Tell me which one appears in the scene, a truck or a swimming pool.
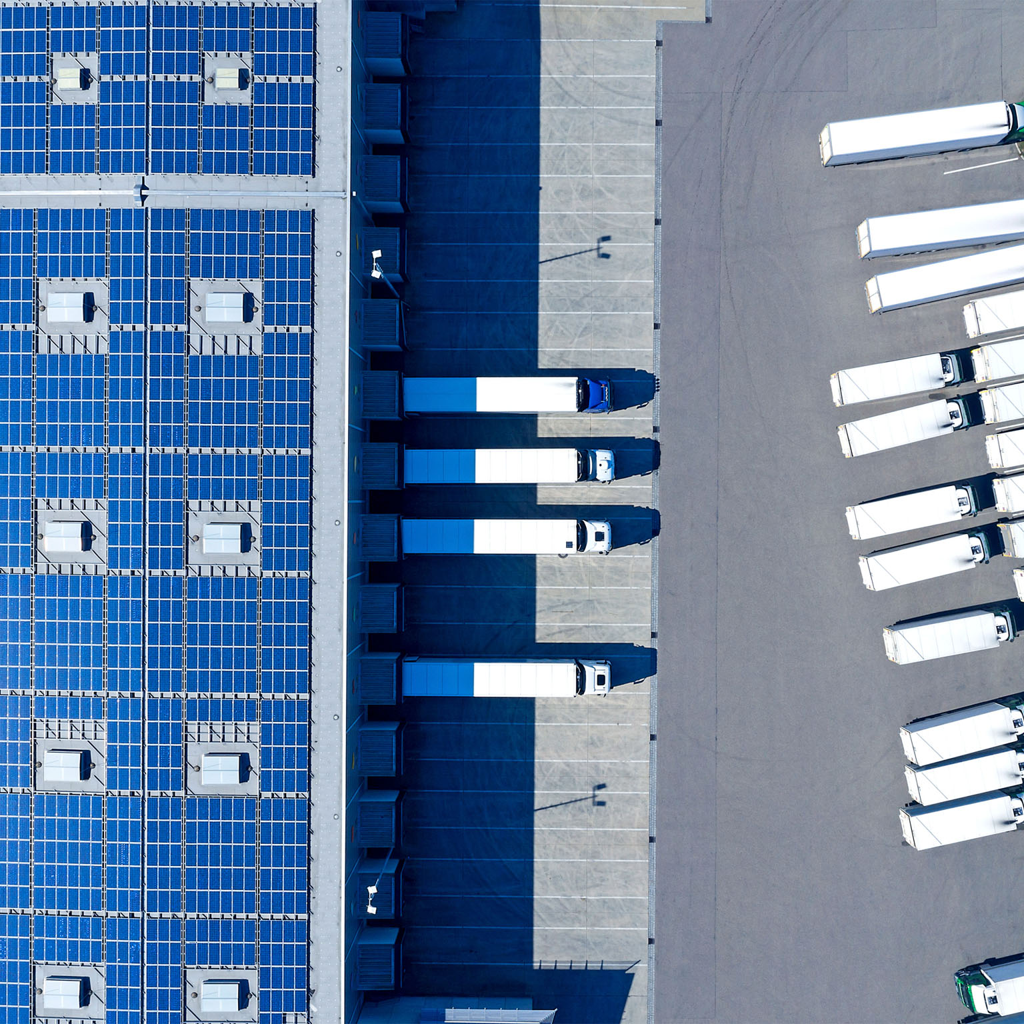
truck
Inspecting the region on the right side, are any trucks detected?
Yes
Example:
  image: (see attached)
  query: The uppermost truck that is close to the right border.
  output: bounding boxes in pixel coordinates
[818,100,1024,166]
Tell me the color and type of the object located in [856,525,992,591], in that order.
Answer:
white truck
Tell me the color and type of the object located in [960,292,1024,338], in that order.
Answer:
white truck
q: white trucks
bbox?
[979,381,1024,422]
[960,292,1024,338]
[401,657,612,698]
[856,198,1024,258]
[404,375,613,416]
[827,348,962,407]
[897,696,1024,766]
[903,741,1024,806]
[865,243,1024,313]
[403,446,613,487]
[996,518,1024,557]
[896,783,1024,850]
[856,525,992,591]
[835,392,970,458]
[818,100,1024,166]
[971,337,1024,381]
[880,604,1015,665]
[983,428,1024,468]
[843,479,978,539]
[991,473,1024,511]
